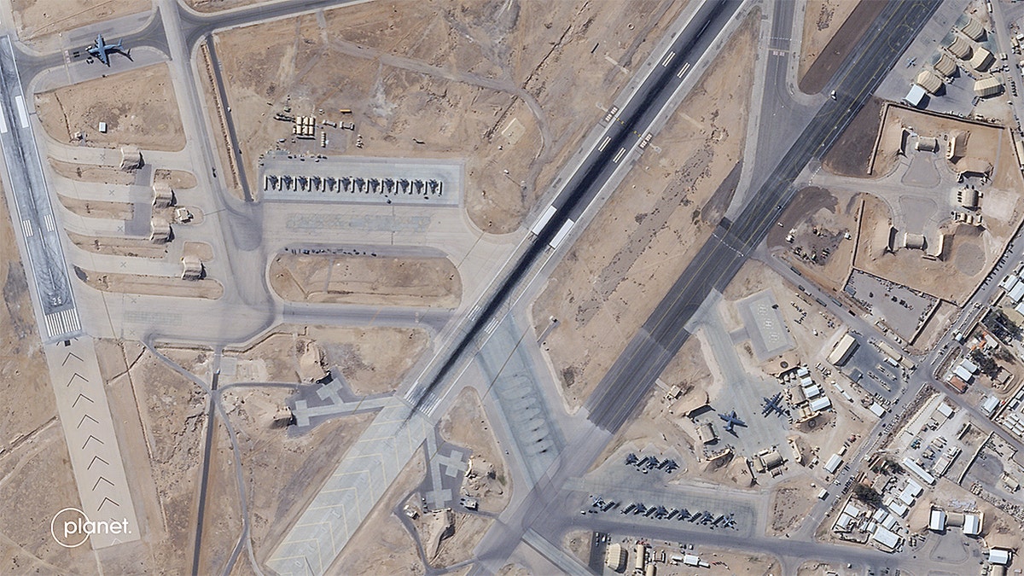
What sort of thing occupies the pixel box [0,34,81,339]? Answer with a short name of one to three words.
runway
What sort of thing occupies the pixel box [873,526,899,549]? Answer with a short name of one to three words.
shed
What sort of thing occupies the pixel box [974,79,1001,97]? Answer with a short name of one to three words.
hangar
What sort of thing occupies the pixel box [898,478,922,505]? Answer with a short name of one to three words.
building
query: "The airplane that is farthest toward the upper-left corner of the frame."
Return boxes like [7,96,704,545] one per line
[87,29,127,65]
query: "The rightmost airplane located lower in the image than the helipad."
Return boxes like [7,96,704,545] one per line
[765,393,783,415]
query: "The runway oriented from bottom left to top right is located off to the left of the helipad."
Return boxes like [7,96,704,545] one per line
[401,0,744,420]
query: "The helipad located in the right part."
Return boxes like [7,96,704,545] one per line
[731,288,796,360]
